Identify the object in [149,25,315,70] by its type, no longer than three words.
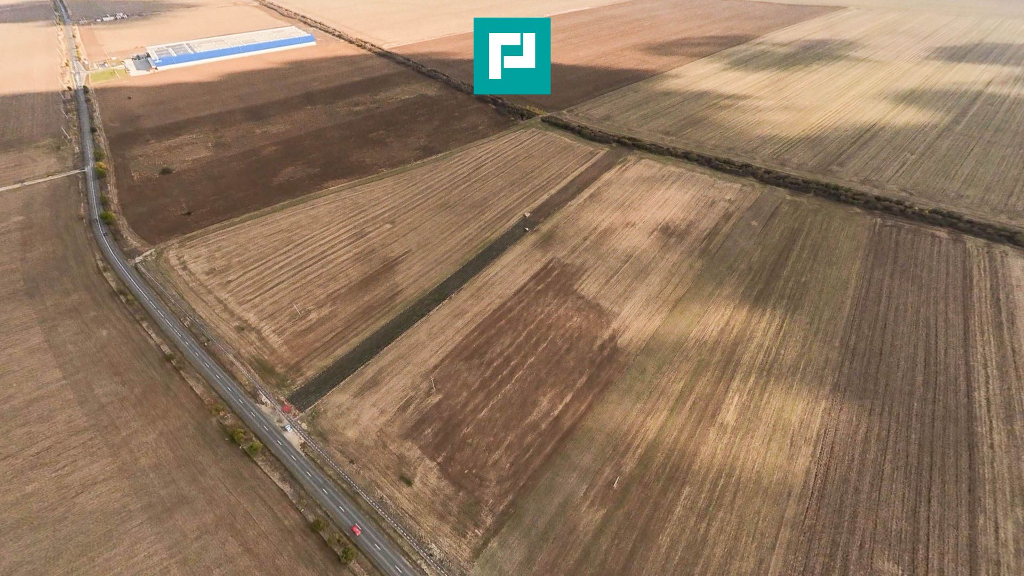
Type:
building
